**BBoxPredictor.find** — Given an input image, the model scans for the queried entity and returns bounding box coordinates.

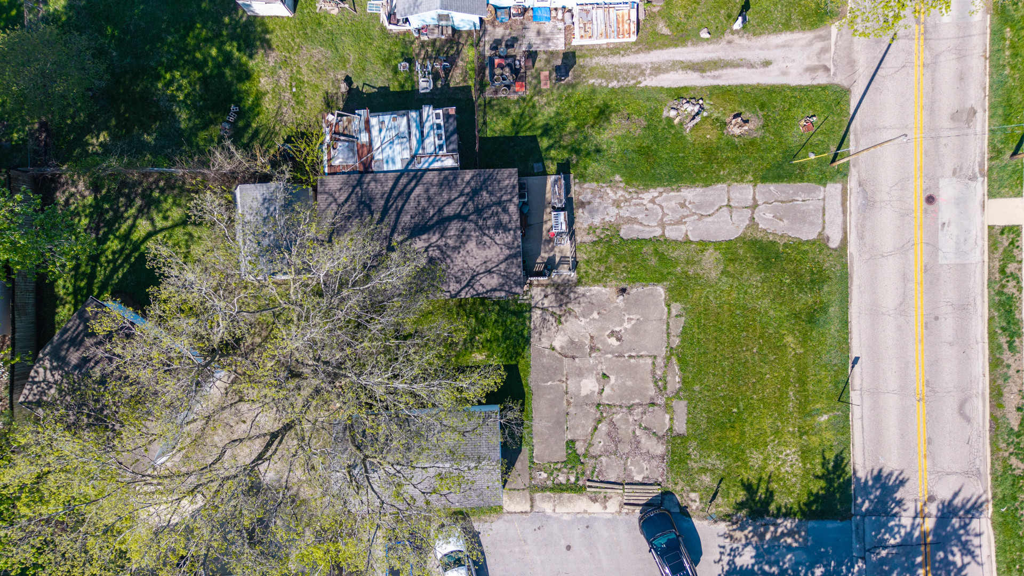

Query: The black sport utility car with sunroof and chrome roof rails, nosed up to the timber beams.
[643,506,696,576]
